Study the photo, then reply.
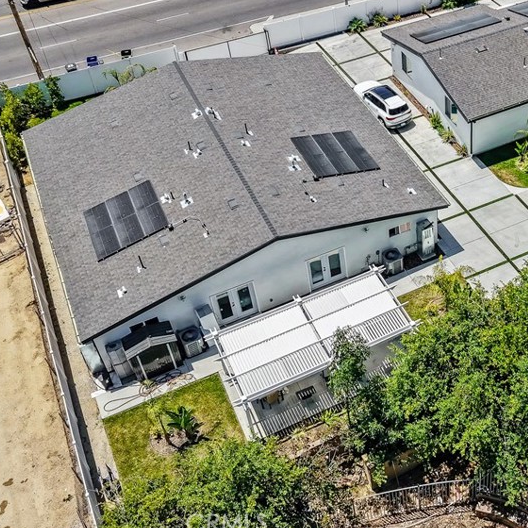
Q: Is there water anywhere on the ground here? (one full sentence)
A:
No, water can't be seen anywhere here.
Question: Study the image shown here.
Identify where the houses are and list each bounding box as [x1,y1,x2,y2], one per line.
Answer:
[379,2,528,155]
[19,53,452,371]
